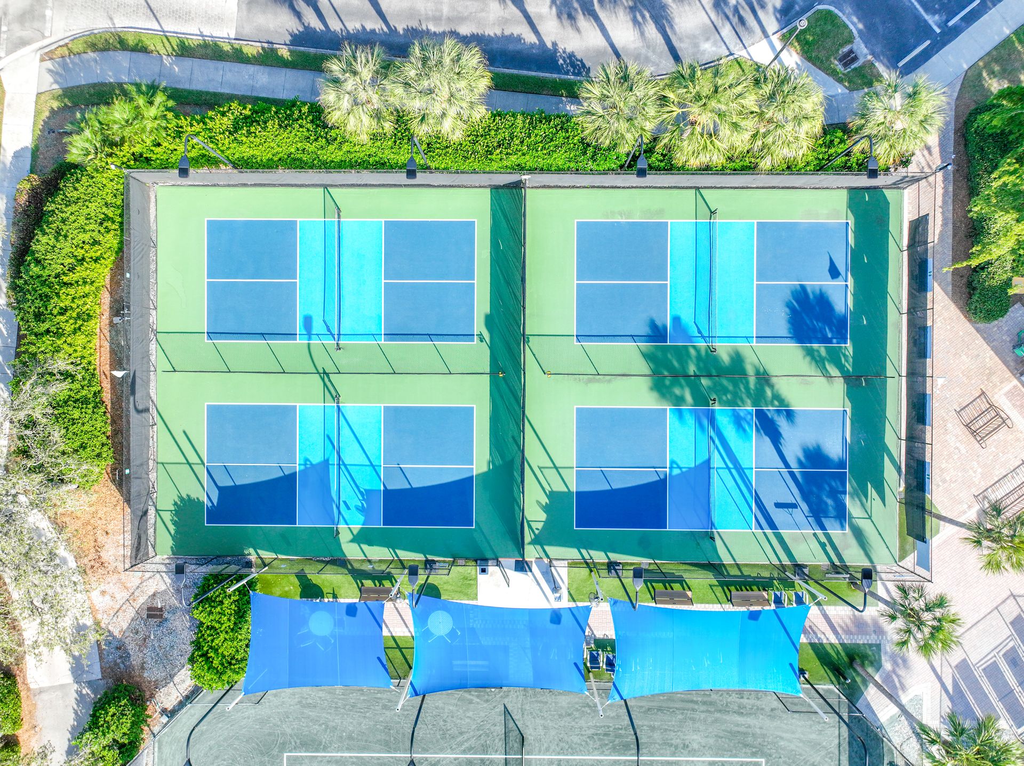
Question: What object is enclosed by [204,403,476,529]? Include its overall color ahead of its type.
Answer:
blue sports court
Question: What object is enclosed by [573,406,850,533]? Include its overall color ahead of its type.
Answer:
blue sports court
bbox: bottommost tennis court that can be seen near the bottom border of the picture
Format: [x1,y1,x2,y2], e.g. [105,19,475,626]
[157,685,893,766]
